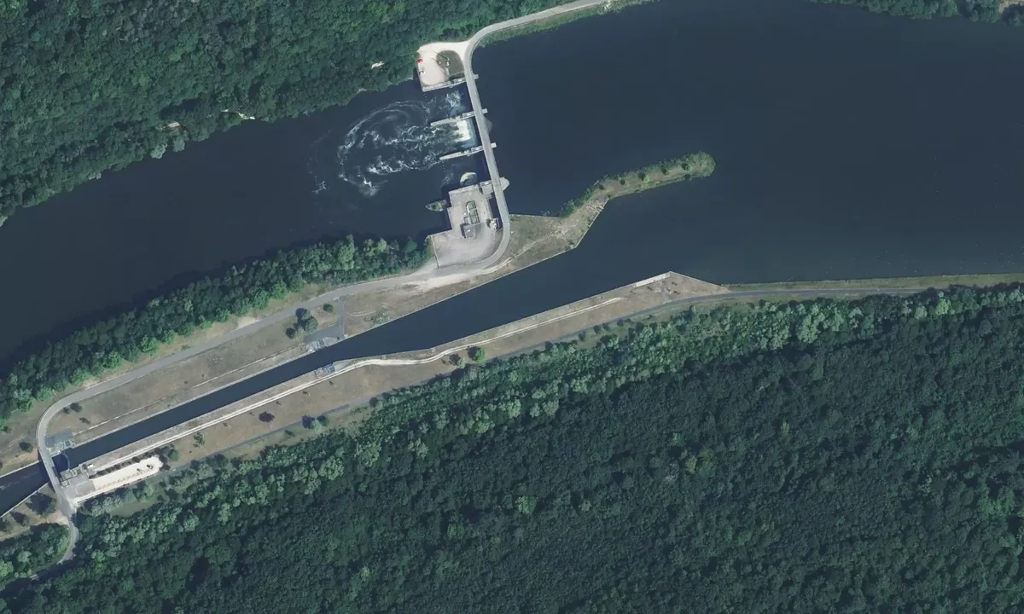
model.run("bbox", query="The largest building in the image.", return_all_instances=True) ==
[447,180,494,231]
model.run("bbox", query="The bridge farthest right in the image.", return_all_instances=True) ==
[464,70,511,235]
